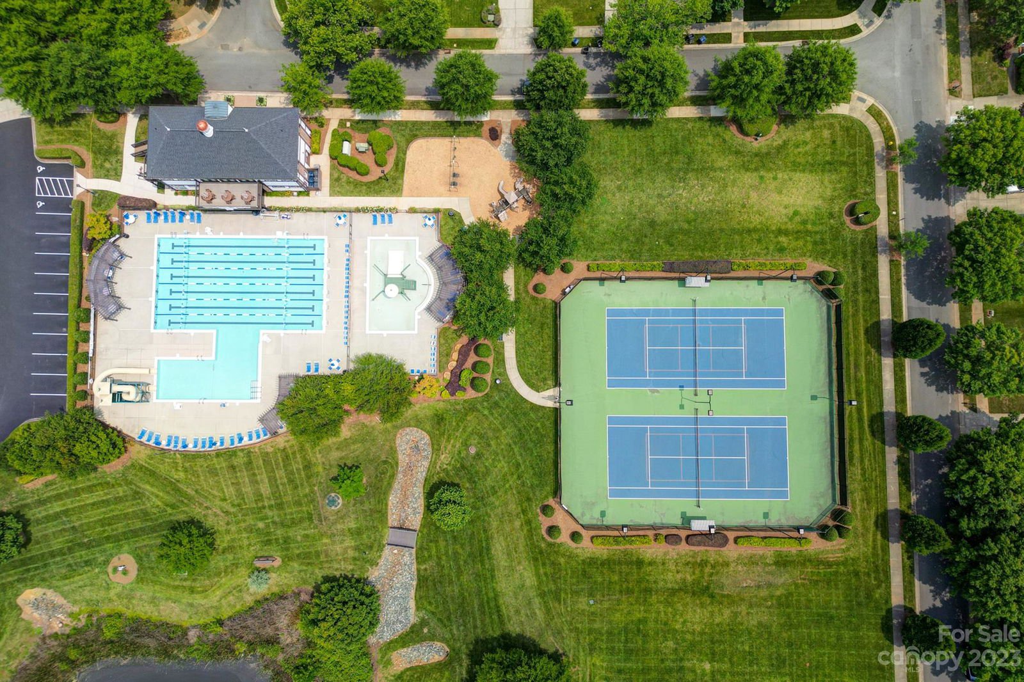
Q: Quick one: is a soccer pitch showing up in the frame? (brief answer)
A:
No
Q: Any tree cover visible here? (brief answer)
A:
Yes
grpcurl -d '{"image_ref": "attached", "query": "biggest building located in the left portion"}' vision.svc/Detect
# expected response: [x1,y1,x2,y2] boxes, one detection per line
[131,99,311,213]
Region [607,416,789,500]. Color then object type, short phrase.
blue tennis court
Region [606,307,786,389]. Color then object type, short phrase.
blue tennis court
